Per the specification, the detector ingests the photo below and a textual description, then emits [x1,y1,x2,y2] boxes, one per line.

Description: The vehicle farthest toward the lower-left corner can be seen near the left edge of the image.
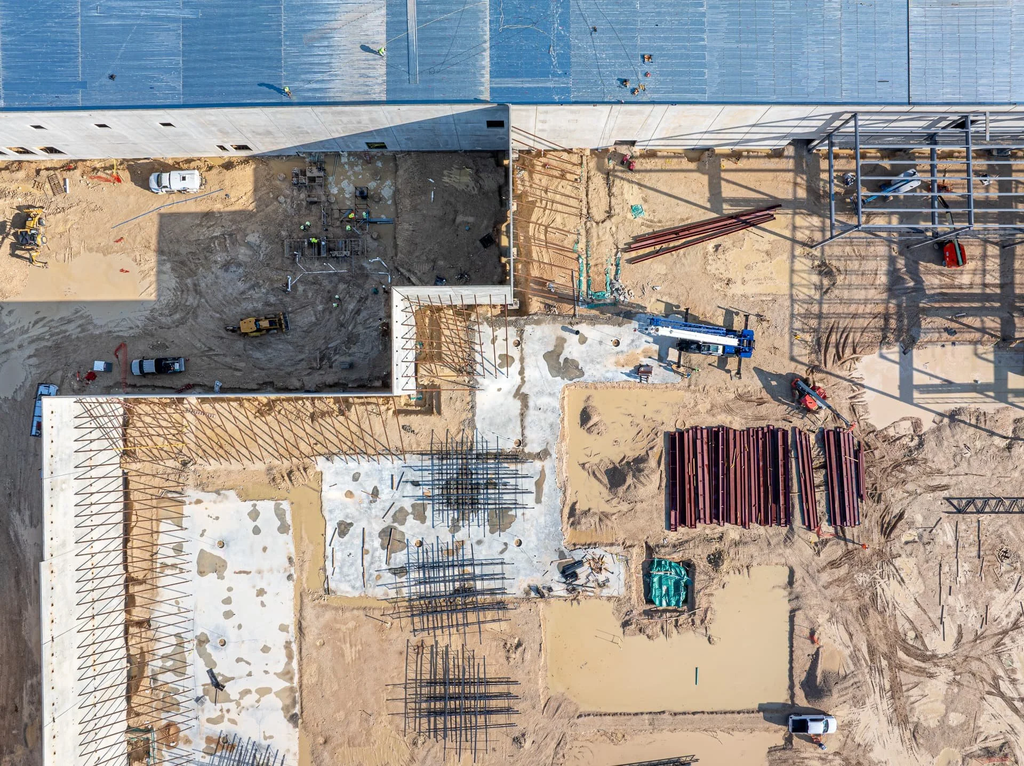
[29,380,63,437]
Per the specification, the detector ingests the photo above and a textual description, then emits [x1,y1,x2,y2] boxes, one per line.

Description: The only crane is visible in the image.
[634,308,764,379]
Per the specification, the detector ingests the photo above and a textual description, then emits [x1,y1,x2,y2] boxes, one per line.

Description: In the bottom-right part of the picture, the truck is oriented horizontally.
[785,713,837,737]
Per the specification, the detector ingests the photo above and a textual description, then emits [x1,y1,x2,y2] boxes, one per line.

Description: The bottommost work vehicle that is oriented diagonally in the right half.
[790,379,854,436]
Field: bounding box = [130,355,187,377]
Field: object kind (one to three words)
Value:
truck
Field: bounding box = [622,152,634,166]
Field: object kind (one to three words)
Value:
vehicle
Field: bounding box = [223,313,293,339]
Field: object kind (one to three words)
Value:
work vehicle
